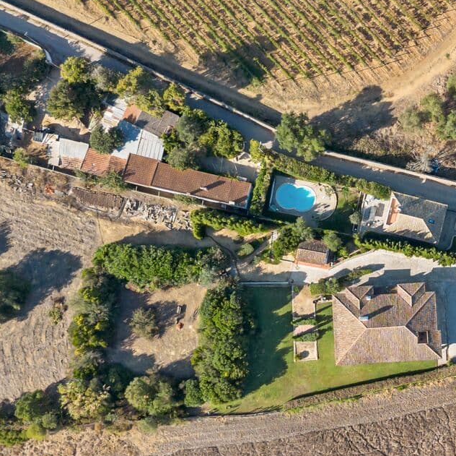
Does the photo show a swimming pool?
Yes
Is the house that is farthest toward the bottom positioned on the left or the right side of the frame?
right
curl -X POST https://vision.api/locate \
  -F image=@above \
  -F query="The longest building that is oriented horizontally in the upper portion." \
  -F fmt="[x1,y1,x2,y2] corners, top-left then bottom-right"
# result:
[123,154,254,210]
